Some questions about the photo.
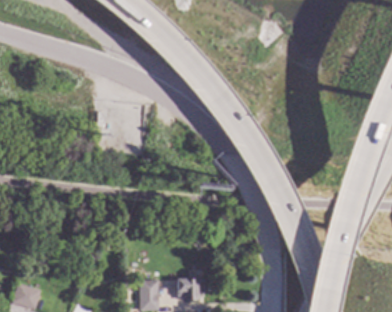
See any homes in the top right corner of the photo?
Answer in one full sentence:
No, I can find no home in the top right corner of the photo.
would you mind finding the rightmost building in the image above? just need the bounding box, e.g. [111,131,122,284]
[166,276,207,304]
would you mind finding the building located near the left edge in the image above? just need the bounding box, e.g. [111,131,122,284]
[14,286,40,310]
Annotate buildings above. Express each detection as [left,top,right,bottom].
[140,281,160,310]
[166,276,207,304]
[14,286,40,310]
